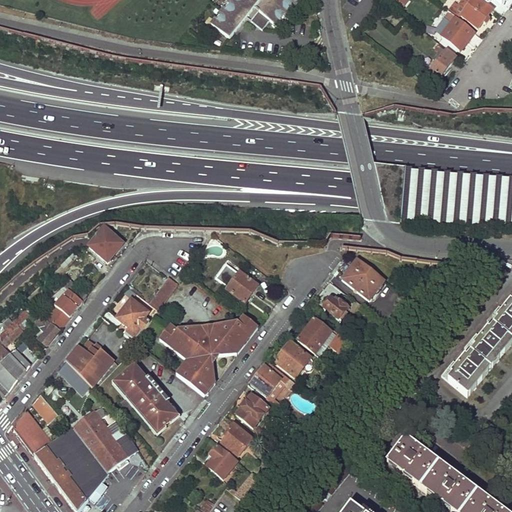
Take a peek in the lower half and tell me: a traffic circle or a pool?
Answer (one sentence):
It is a pool that can be seen in the lower half.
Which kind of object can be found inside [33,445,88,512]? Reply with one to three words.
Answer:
building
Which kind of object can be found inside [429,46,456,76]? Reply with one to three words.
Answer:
house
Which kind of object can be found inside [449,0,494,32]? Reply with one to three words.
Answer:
house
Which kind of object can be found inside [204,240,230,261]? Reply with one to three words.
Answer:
swimming pool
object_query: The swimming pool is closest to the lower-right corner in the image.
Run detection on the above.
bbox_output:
[289,393,314,416]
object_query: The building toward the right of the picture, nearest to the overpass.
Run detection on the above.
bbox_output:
[340,256,386,305]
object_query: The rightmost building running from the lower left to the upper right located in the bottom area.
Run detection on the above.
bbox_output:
[440,288,512,399]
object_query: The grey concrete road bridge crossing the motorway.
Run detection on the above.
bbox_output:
[332,108,389,222]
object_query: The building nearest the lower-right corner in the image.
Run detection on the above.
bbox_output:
[383,434,511,512]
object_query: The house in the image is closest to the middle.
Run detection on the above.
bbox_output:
[226,270,260,304]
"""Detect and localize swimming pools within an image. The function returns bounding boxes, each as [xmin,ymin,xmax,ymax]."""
[289,393,314,416]
[204,240,230,261]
